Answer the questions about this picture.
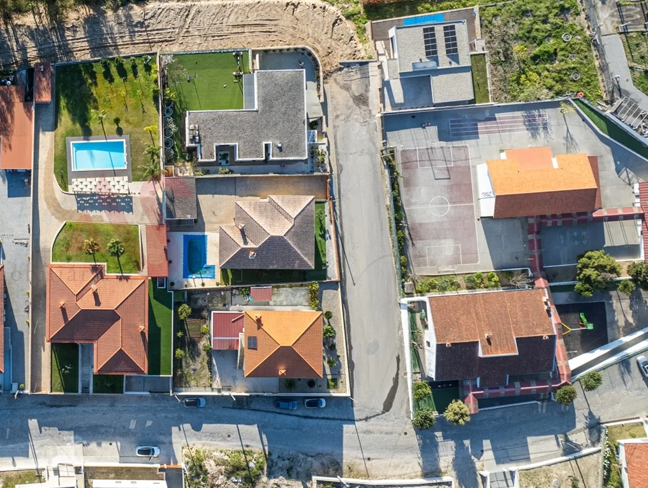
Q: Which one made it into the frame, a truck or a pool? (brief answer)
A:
pool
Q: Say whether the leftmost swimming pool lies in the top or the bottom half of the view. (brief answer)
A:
top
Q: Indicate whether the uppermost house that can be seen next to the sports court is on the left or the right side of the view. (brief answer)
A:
right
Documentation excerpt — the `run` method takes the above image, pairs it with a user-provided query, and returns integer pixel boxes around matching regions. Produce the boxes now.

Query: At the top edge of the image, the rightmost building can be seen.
[374,20,485,105]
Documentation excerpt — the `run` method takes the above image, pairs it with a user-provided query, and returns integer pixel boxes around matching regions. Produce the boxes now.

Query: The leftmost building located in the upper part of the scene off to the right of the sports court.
[471,147,600,219]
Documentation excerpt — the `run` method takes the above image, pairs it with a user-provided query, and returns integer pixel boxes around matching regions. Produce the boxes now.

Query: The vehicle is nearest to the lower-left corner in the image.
[135,445,159,458]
